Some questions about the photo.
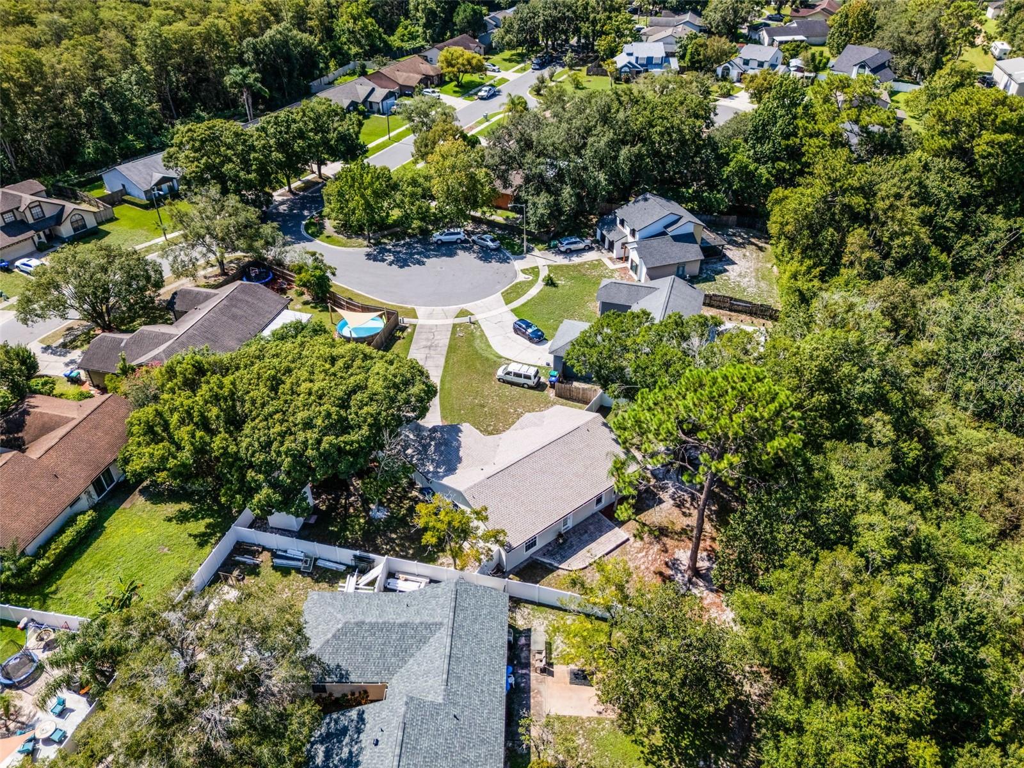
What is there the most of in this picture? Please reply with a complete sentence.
For the most part, this view shows trees.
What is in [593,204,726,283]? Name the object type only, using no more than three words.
house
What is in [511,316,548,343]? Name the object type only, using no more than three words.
car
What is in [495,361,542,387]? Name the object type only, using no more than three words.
vehicle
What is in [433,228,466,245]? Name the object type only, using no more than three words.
car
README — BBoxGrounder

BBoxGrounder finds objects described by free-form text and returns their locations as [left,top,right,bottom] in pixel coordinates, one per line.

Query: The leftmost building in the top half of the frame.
[0,183,98,259]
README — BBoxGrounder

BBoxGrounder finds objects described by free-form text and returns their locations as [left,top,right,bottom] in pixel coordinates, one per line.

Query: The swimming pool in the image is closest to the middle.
[335,316,386,348]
